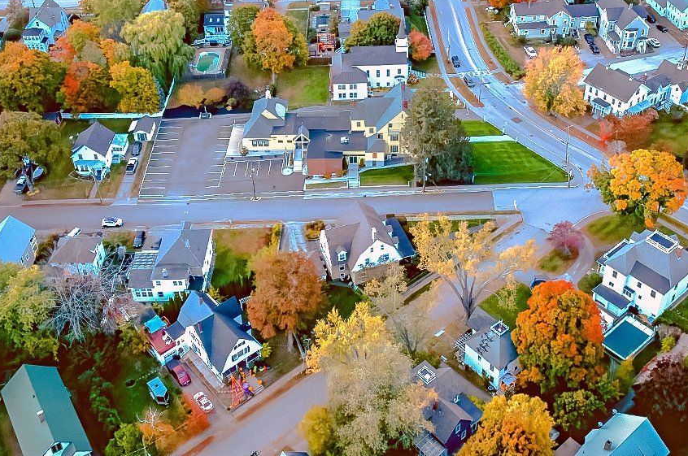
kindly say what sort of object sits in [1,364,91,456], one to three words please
house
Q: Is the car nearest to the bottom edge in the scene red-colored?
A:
No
